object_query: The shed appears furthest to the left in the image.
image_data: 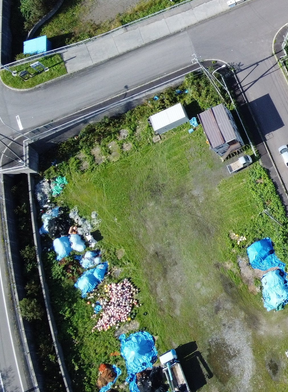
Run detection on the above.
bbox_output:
[22,36,54,60]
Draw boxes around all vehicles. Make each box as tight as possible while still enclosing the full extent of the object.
[157,352,189,392]
[228,154,251,171]
[279,144,288,169]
